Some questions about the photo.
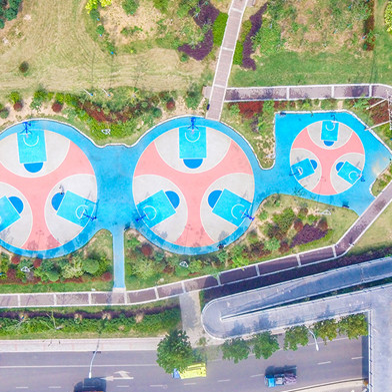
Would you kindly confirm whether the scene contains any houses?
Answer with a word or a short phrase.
No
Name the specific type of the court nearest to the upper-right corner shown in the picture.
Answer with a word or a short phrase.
basketball court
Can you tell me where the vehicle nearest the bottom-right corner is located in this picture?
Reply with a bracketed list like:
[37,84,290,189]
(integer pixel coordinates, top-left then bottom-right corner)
[263,370,296,388]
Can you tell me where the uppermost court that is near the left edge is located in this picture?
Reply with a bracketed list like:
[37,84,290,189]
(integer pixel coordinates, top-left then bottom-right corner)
[0,129,98,251]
